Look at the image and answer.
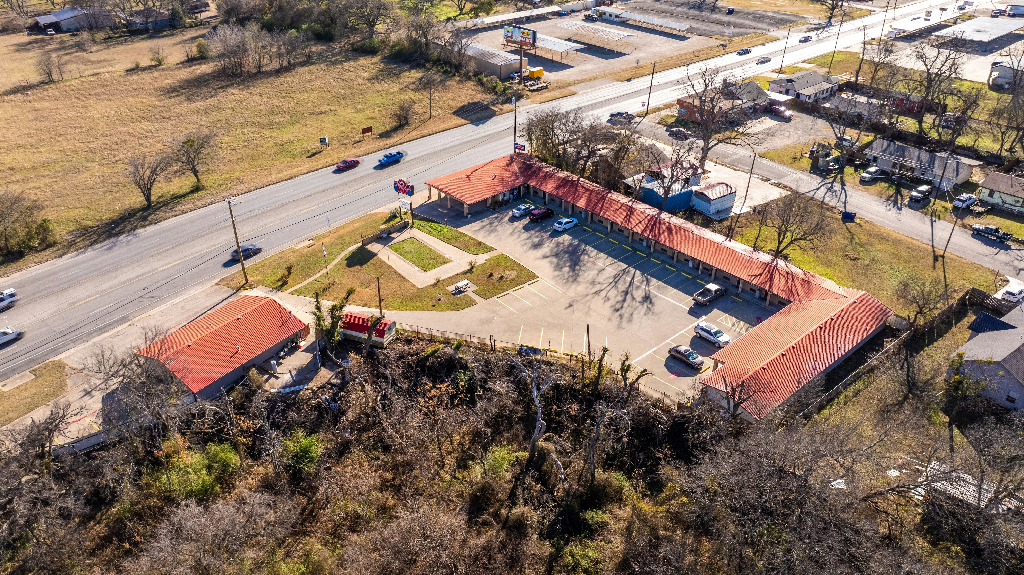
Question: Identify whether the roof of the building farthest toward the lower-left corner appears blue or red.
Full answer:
The roof of the building farthest toward the lower-left corner is red.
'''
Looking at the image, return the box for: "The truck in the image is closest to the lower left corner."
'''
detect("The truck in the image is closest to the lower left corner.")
[0,327,26,348]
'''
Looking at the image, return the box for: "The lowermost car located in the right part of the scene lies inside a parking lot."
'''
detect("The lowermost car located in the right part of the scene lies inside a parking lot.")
[667,345,705,371]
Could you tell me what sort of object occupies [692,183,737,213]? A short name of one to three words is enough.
shed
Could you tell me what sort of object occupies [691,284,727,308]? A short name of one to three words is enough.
truck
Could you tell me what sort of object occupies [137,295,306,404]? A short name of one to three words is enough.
building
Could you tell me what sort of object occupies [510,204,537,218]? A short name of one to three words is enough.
car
